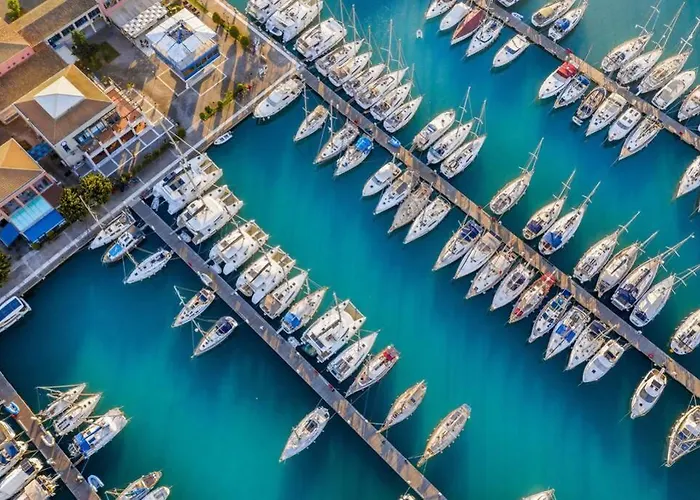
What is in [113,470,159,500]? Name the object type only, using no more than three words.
boat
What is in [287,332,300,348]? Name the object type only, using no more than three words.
boat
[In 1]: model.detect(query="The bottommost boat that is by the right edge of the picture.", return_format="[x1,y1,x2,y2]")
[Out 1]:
[656,410,700,474]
